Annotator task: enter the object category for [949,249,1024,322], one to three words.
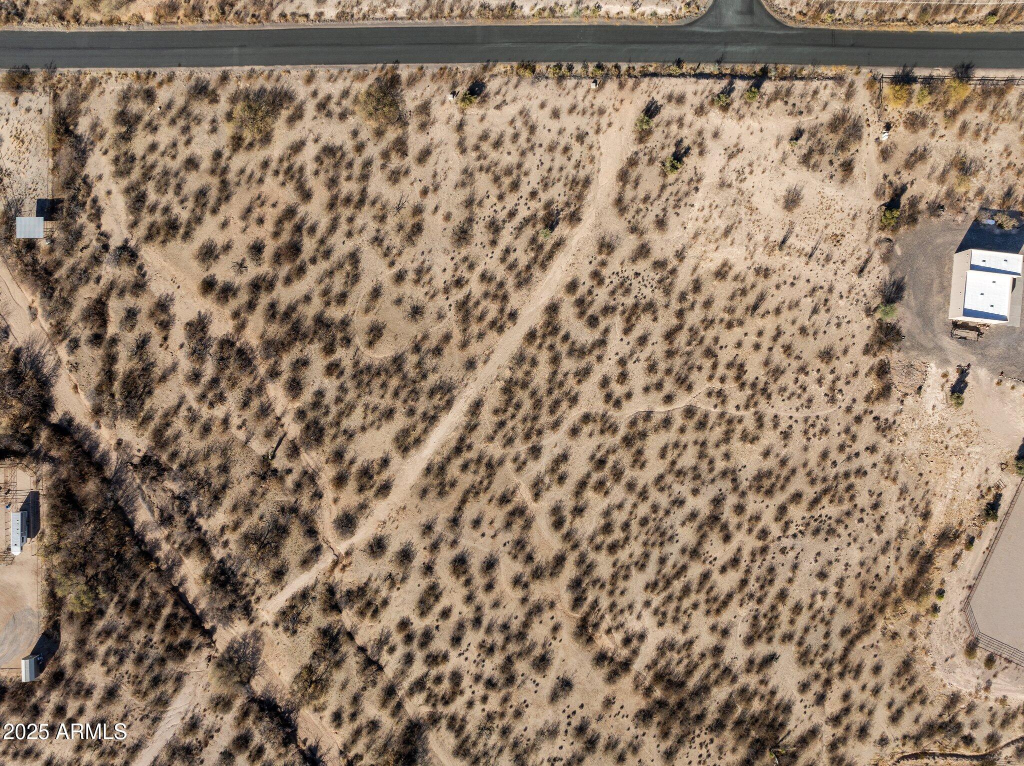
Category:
house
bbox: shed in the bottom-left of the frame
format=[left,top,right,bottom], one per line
[23,654,40,681]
